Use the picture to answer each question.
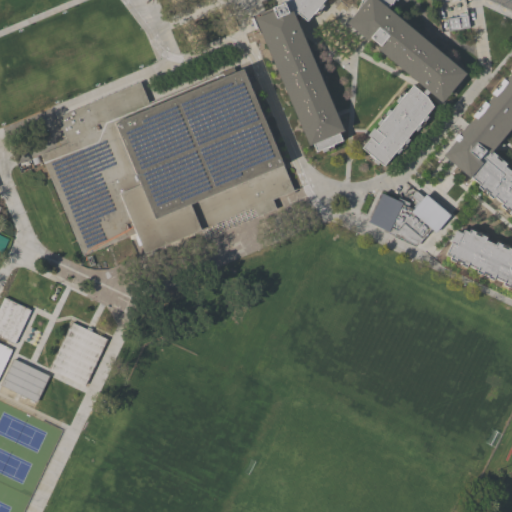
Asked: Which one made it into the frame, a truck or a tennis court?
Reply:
tennis court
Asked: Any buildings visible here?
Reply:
Yes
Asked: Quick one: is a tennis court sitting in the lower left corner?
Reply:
Yes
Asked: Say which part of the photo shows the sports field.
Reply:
bottom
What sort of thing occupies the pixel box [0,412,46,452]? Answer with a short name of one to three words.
tennis court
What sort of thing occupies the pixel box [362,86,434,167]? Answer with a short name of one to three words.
building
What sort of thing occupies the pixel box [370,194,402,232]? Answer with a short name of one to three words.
building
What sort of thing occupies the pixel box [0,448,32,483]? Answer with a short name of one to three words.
tennis court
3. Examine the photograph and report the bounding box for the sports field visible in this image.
[95,240,508,512]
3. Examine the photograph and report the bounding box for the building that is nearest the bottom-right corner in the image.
[447,230,512,288]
